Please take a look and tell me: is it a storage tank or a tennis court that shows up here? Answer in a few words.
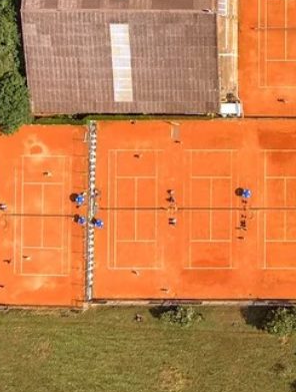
tennis court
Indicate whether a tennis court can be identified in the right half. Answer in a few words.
Yes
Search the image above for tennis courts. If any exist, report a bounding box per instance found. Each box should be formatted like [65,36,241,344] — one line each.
[238,0,296,117]
[5,124,86,307]
[248,117,296,299]
[174,117,248,299]
[95,120,174,299]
